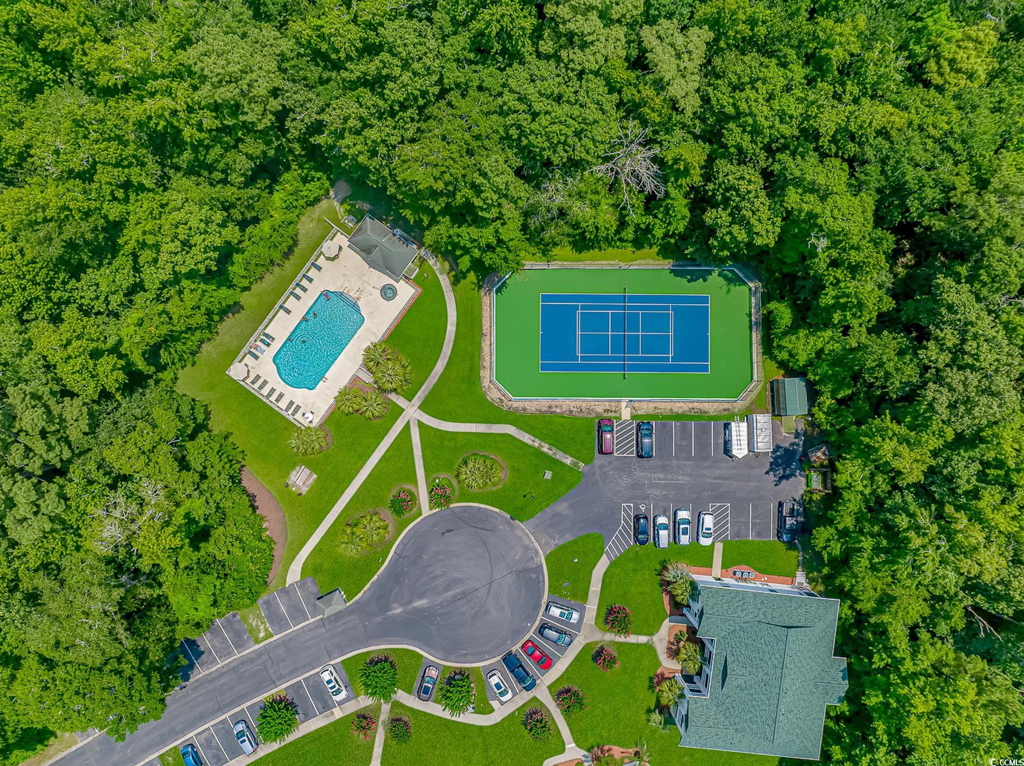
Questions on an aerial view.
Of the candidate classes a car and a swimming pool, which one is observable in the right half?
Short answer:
car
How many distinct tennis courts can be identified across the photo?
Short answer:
one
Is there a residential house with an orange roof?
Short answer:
No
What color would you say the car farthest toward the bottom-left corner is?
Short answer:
blue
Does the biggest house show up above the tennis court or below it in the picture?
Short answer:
below it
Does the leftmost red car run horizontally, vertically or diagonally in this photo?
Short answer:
diagonally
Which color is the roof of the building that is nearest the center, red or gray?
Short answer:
gray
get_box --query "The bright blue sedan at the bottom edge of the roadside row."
[179,739,205,766]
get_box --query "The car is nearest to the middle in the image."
[597,418,613,455]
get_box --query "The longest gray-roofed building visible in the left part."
[348,214,419,279]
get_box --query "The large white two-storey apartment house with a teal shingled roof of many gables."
[671,576,849,762]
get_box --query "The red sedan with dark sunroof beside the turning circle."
[520,639,554,669]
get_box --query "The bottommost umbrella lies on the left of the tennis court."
[229,363,247,380]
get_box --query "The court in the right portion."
[495,268,755,399]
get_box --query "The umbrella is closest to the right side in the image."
[322,240,339,257]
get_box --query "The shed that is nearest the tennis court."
[771,378,806,430]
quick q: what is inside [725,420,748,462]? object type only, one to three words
trailer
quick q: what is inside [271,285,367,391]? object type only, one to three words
swimming pool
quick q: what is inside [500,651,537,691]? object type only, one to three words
truck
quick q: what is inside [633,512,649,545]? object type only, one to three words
car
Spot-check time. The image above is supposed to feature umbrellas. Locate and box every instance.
[229,363,247,380]
[322,240,339,257]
